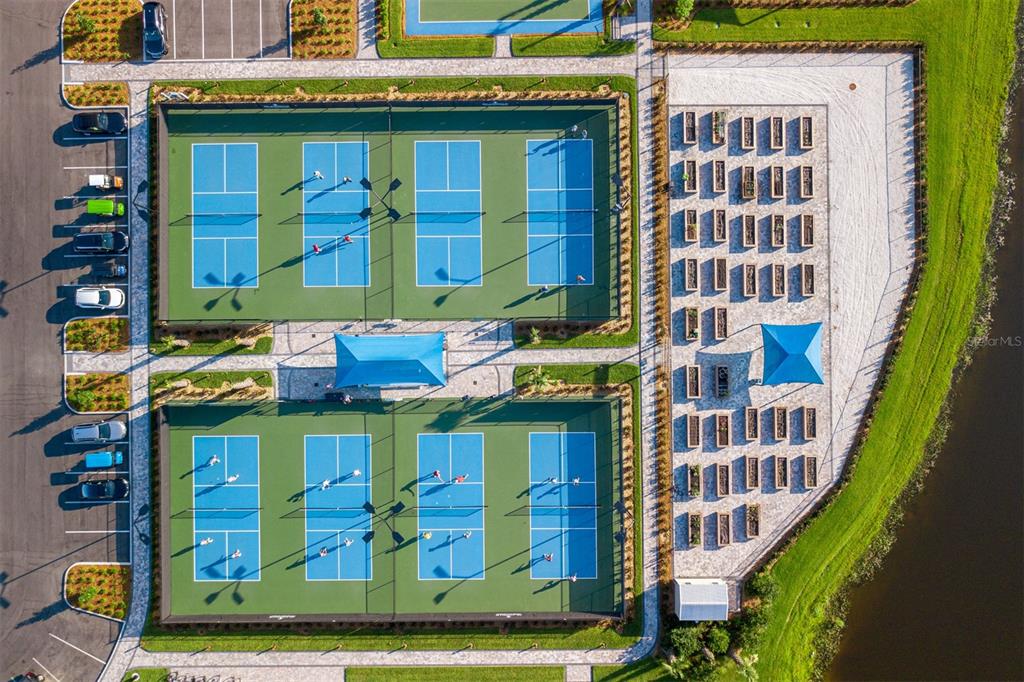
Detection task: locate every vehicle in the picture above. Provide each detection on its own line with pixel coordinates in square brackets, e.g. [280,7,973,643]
[73,229,131,255]
[86,200,124,217]
[73,419,129,444]
[81,477,131,502]
[86,451,124,468]
[140,3,169,58]
[87,263,125,278]
[74,110,128,136]
[85,175,124,191]
[73,286,126,310]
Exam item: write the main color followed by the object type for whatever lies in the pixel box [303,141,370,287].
blue sports court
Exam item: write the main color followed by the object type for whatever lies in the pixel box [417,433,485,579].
blue sports court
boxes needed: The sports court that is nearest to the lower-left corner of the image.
[194,436,260,581]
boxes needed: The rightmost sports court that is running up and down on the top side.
[527,139,594,285]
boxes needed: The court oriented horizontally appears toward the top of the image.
[406,0,603,35]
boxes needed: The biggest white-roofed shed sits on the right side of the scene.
[676,577,731,620]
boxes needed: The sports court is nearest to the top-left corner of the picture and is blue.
[192,143,259,288]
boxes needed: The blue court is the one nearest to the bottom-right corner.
[529,432,597,578]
